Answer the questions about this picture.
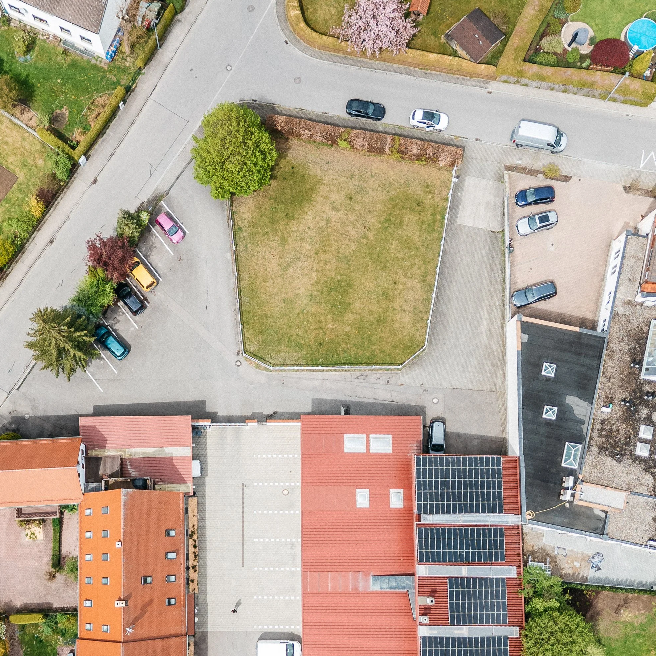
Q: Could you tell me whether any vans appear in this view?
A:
Yes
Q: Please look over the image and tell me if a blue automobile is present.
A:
Yes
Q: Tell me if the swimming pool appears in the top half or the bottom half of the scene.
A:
top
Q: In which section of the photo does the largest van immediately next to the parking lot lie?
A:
top right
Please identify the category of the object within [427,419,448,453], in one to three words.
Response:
car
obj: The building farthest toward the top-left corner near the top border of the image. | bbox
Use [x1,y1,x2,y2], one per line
[0,0,130,54]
